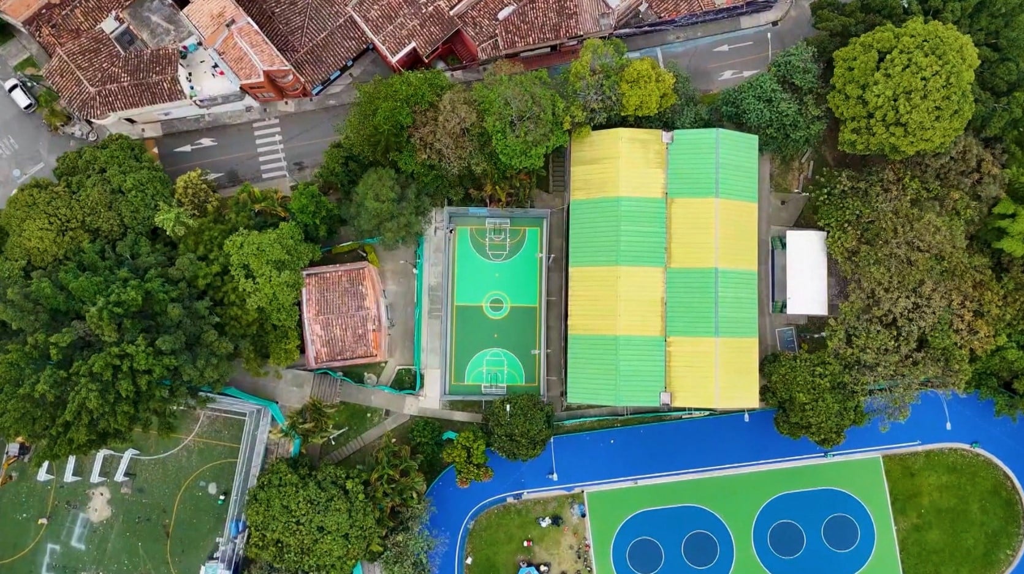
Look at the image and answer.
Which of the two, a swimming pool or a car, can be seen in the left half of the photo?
car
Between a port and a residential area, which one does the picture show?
residential area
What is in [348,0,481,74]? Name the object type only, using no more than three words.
house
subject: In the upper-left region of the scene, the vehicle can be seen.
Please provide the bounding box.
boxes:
[1,77,34,113]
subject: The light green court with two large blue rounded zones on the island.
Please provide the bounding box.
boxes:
[586,455,903,574]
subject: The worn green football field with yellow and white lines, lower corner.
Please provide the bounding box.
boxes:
[0,402,247,574]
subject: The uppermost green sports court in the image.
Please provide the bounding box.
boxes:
[439,198,557,408]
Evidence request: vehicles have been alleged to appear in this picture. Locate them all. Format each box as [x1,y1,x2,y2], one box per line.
[1,77,34,113]
[0,443,31,483]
